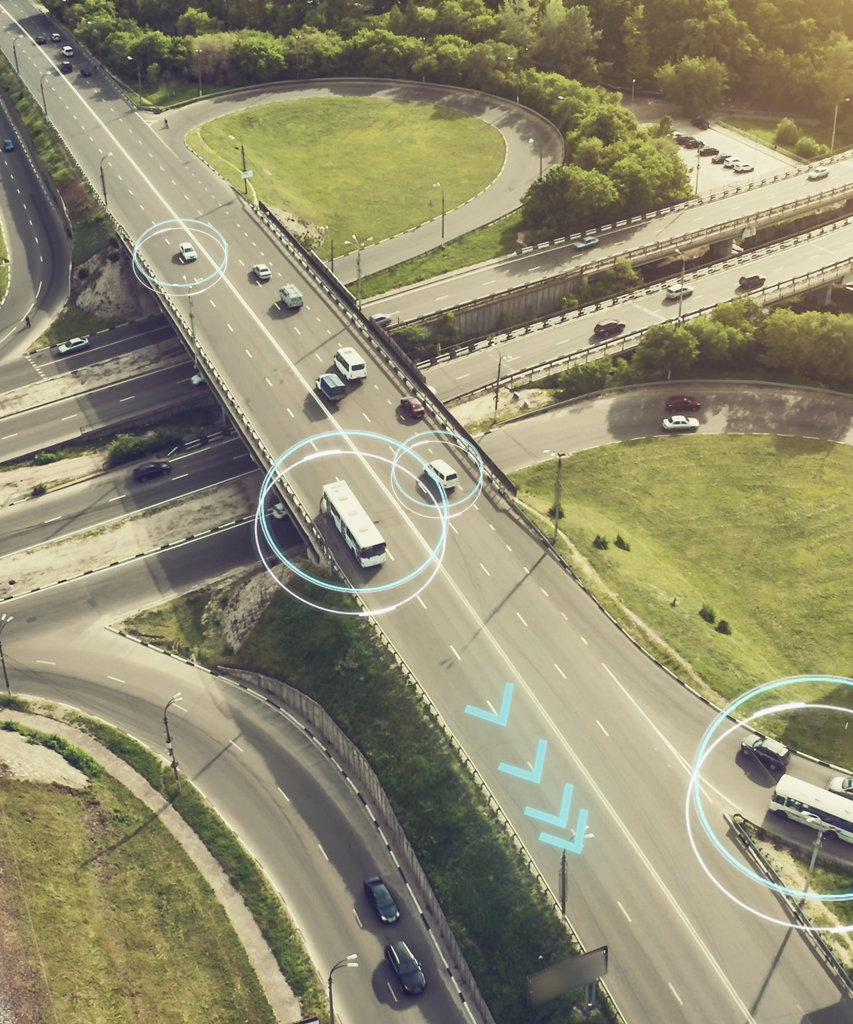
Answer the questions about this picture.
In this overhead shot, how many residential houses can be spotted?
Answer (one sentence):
There are no residential houses in this view.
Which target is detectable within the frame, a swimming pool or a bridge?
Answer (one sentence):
Visible in the photo is a bridge.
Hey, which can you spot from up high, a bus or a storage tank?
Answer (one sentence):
There is a bus in the scene.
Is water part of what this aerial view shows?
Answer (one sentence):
No, the scene doesn't show any water.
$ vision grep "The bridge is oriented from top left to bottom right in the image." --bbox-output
[113,214,515,563]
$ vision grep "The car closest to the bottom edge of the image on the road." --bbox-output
[385,941,427,1002]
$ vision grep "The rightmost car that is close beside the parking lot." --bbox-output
[806,167,831,180]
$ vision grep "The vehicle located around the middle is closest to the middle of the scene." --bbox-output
[425,458,459,493]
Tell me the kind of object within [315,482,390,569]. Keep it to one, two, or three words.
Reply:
bus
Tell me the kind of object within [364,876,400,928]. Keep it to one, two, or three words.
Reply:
car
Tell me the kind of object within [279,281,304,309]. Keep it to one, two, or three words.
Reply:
vehicle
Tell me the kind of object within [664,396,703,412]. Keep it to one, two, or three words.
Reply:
car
